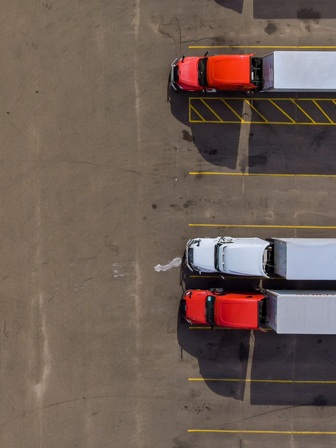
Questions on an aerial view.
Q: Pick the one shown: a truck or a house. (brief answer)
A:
truck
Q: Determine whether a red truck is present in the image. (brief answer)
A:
Yes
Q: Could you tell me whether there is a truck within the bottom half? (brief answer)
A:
Yes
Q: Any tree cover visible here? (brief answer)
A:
No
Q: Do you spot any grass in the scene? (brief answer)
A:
No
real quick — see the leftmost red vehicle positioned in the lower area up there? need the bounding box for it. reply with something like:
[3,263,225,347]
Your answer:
[180,287,289,333]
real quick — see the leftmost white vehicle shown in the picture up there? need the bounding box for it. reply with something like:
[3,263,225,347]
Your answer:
[184,234,286,280]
